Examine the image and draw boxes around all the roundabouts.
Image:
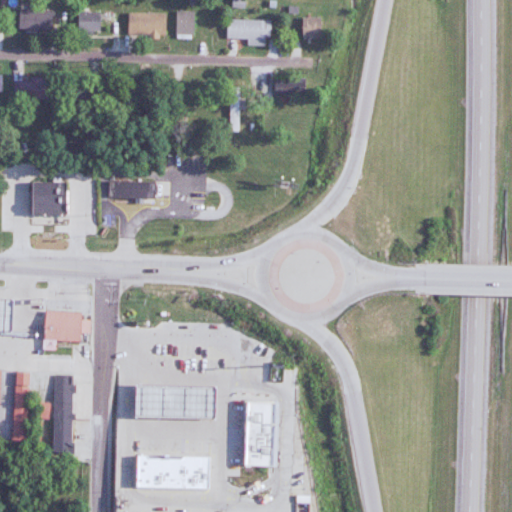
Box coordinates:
[260,229,354,323]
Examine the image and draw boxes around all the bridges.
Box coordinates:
[408,264,512,296]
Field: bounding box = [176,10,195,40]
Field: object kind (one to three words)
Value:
house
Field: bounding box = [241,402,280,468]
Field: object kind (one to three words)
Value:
building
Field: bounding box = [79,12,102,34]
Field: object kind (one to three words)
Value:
house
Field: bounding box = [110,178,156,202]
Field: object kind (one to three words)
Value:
building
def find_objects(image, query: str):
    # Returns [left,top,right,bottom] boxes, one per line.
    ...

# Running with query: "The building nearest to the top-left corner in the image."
[19,10,54,30]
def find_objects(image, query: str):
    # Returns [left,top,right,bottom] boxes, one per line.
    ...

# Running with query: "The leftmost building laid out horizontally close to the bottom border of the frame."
[136,455,208,489]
